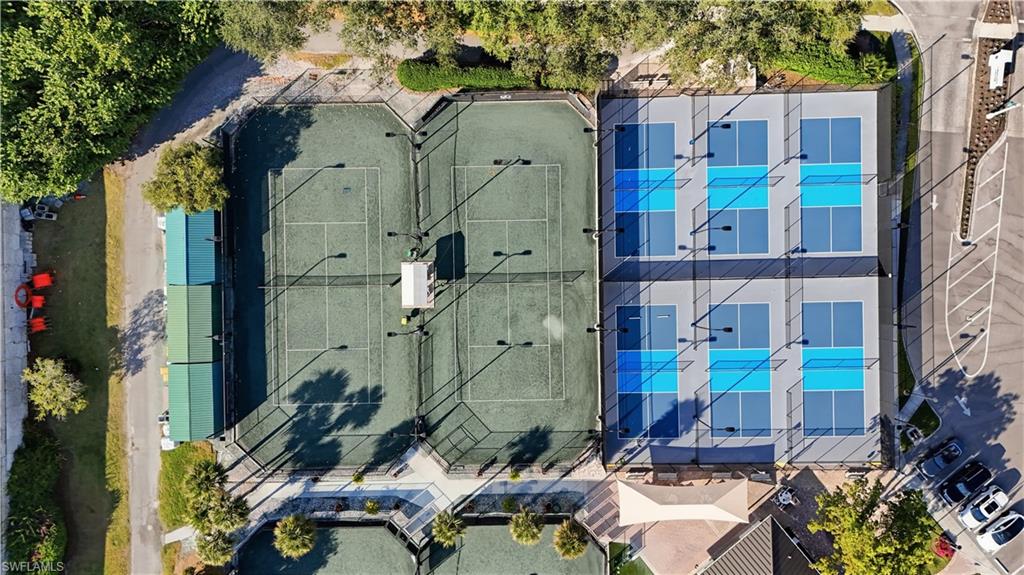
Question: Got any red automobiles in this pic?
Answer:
No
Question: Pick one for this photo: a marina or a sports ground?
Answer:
sports ground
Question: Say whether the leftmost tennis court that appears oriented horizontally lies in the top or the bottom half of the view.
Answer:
bottom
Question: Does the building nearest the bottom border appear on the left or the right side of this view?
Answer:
right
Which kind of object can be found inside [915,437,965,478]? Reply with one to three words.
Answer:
car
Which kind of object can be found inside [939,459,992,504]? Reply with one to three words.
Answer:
car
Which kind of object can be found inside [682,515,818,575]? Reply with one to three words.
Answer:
building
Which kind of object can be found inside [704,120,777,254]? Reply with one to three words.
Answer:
sports court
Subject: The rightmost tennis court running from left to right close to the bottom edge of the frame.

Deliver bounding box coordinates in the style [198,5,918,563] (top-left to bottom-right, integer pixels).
[422,528,606,575]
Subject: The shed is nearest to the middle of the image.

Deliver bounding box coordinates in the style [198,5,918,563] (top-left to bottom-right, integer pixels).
[401,262,434,308]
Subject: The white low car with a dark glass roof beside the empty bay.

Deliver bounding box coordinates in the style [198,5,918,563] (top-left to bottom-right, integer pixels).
[977,507,1024,551]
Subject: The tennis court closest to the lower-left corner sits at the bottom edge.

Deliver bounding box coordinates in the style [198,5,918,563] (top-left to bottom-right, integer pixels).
[237,519,418,575]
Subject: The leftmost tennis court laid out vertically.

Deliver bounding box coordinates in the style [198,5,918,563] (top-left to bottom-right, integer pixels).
[233,103,418,469]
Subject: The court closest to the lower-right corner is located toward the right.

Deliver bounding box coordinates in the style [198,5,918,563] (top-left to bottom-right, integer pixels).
[799,302,873,436]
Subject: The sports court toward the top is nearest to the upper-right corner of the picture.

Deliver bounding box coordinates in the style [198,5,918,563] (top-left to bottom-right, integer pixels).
[797,117,871,252]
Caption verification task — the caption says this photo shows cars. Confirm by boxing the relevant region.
[915,437,965,478]
[958,486,1009,529]
[939,459,992,504]
[977,507,1024,551]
